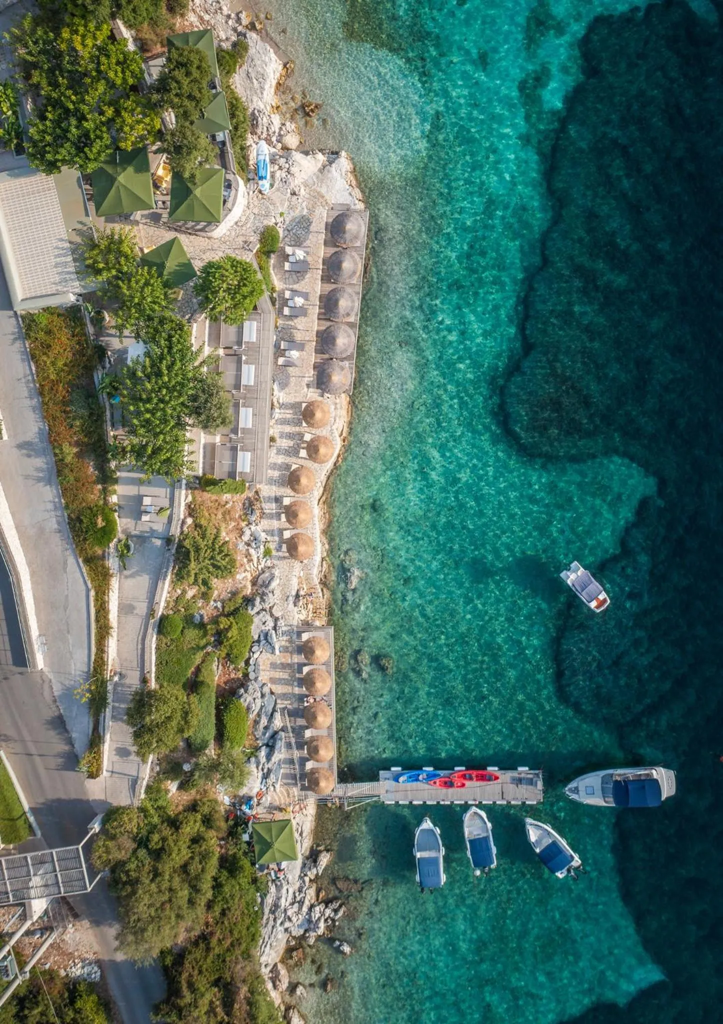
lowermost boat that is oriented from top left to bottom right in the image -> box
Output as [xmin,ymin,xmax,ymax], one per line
[523,804,584,880]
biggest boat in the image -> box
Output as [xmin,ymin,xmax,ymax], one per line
[563,768,676,813]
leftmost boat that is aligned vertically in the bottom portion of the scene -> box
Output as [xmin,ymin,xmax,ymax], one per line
[413,806,445,891]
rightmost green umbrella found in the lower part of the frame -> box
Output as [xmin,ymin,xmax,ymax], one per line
[253,818,298,864]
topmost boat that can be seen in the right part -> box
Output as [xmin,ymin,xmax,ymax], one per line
[556,556,608,611]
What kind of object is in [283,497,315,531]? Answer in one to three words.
umbrella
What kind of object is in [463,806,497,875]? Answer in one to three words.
boat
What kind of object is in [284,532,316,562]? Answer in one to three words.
umbrella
